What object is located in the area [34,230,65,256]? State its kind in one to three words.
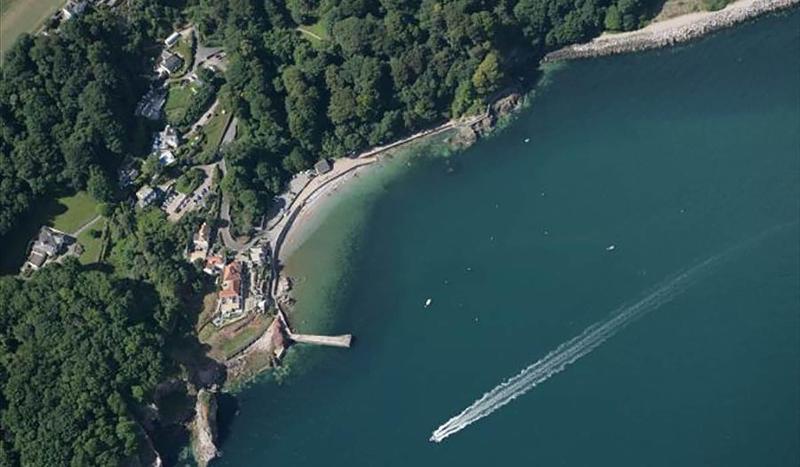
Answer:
house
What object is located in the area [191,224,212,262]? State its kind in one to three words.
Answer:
house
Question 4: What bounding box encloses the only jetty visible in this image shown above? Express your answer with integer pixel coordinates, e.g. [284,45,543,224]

[290,333,352,349]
